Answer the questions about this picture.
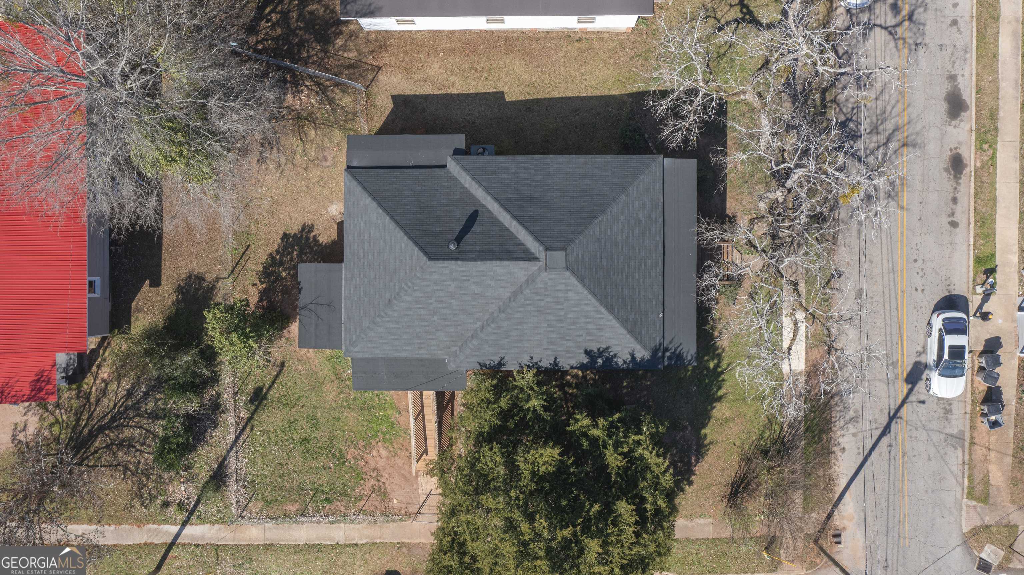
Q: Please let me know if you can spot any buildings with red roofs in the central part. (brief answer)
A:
No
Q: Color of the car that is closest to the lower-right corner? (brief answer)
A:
white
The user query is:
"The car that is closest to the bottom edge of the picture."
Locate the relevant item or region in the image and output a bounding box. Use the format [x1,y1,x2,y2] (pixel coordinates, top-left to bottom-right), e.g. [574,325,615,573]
[927,310,976,397]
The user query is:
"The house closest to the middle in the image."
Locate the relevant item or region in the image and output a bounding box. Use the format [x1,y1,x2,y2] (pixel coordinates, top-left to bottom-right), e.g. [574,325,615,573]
[297,134,697,391]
